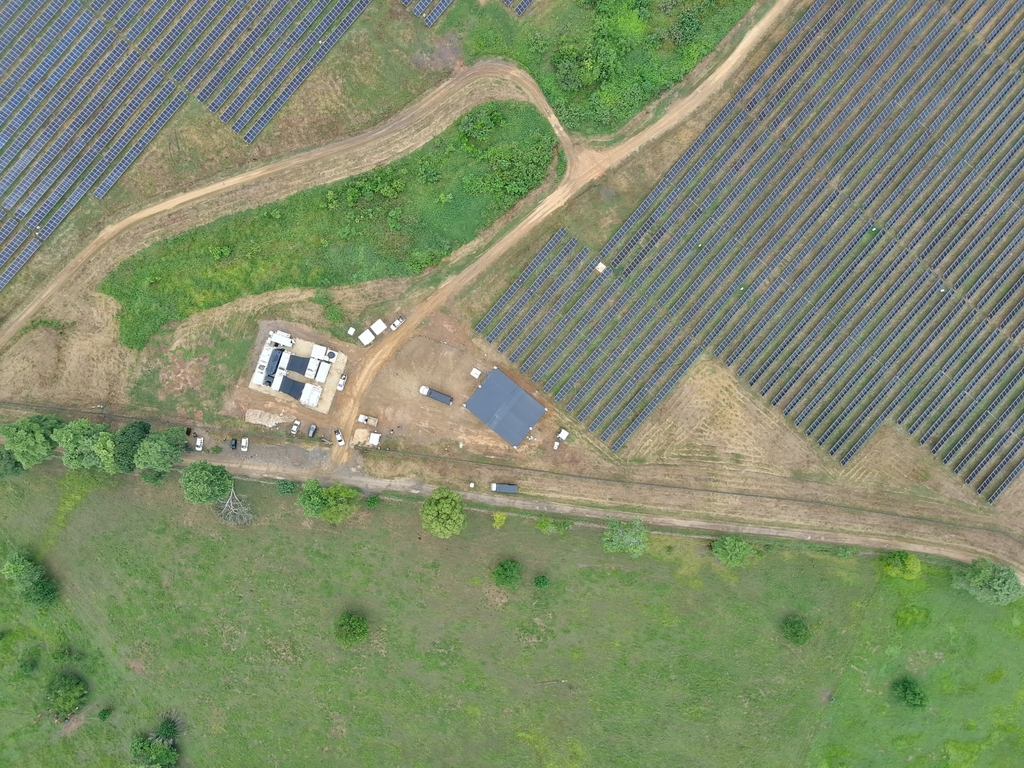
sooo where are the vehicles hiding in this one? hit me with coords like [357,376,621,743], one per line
[241,437,249,451]
[357,414,379,427]
[231,438,238,449]
[308,423,317,438]
[491,482,518,493]
[196,437,205,451]
[338,373,348,391]
[419,386,454,405]
[334,428,345,446]
[390,316,406,331]
[291,419,301,434]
